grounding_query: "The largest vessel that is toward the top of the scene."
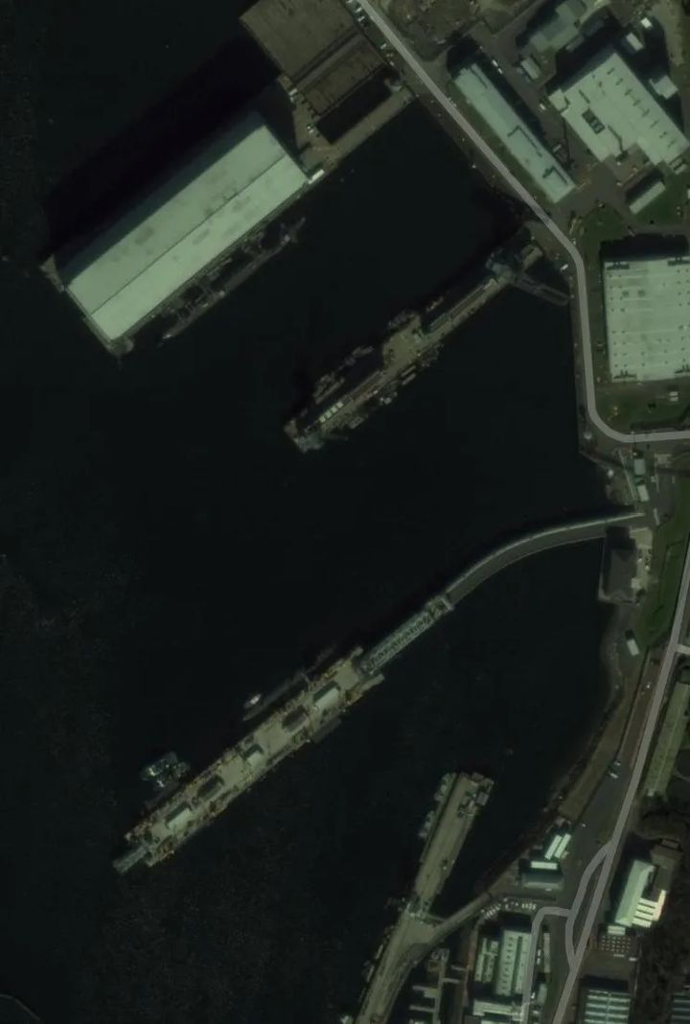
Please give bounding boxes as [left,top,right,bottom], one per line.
[165,215,306,336]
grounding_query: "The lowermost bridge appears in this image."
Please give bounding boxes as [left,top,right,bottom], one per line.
[360,609,439,677]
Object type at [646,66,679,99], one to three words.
building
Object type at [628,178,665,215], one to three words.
shed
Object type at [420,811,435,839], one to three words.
boat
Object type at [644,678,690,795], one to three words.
house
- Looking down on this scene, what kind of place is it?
port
